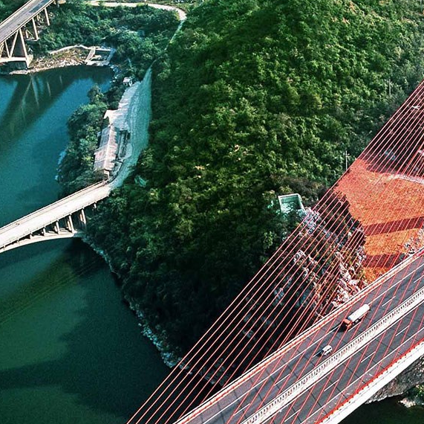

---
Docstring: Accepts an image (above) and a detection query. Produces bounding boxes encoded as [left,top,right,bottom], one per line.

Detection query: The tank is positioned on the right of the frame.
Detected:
[278,192,308,227]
